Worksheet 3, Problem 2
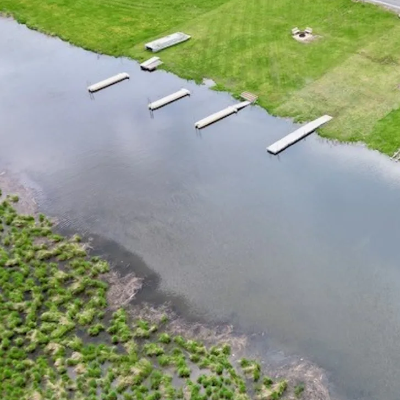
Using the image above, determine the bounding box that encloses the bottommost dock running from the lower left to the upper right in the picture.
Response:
[266,116,333,157]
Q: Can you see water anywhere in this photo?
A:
Yes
